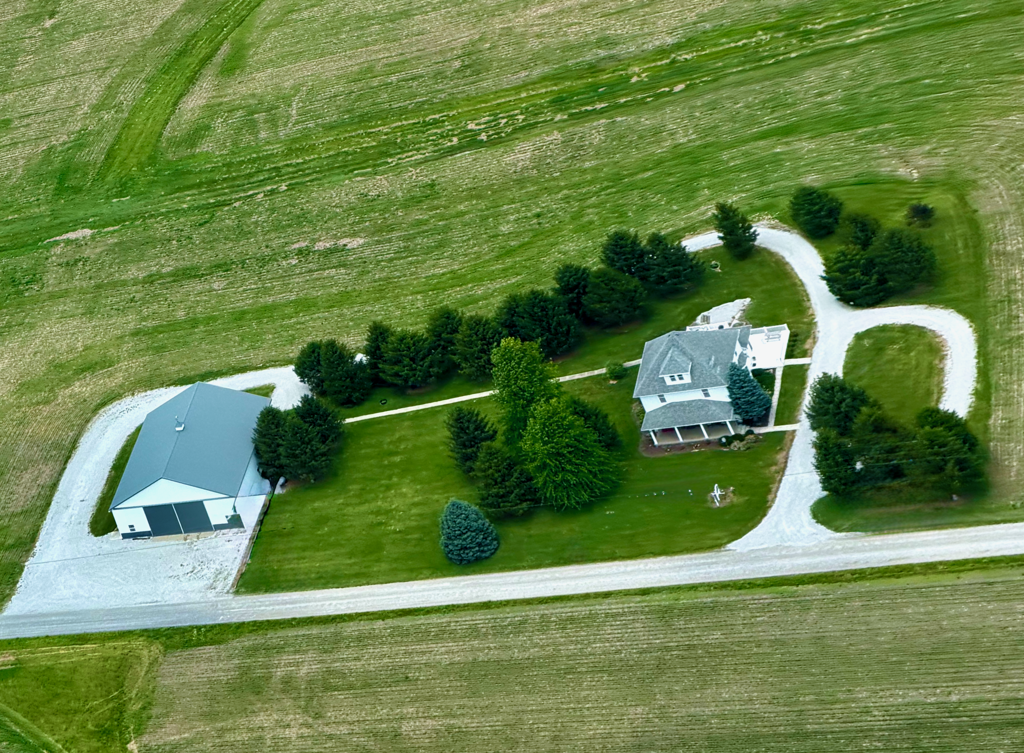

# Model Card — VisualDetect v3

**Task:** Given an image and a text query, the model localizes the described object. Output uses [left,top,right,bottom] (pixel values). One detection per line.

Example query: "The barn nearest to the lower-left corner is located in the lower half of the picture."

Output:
[108,381,278,540]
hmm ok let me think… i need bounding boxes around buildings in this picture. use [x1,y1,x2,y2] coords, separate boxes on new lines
[108,381,278,540]
[632,324,757,451]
